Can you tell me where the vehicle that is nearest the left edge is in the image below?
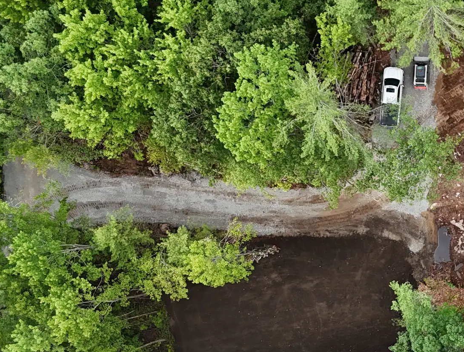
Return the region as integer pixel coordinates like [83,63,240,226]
[379,66,404,130]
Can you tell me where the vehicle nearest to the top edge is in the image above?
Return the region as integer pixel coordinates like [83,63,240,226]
[412,58,431,90]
